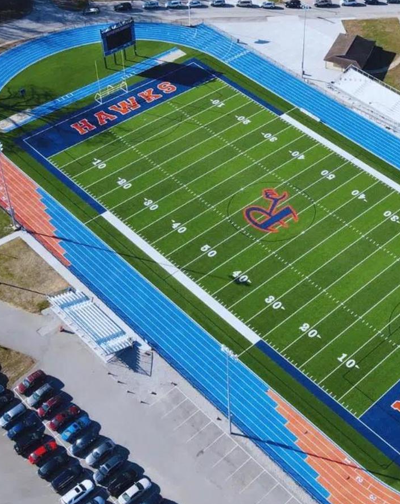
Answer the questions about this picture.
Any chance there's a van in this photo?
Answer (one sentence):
Yes, looking at the shot, I can spot a van.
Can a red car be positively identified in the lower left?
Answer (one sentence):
Yes, looking in the lower left, one can make out a red car.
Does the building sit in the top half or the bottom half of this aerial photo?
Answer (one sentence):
You can find the building in the top half.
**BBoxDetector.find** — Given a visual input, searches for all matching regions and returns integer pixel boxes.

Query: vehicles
[165,0,182,7]
[135,486,169,504]
[235,0,253,6]
[118,477,151,504]
[61,479,95,504]
[107,465,140,497]
[209,0,227,6]
[316,0,333,5]
[16,369,47,393]
[6,412,41,439]
[26,438,60,467]
[340,0,357,5]
[69,428,102,457]
[35,449,73,481]
[114,1,132,10]
[0,396,30,425]
[285,0,302,7]
[16,424,46,452]
[60,414,93,442]
[96,451,128,481]
[86,440,115,465]
[85,493,108,504]
[26,379,57,407]
[50,461,85,493]
[48,405,81,432]
[0,391,16,409]
[142,0,159,9]
[35,392,66,420]
[189,0,205,7]
[260,1,277,9]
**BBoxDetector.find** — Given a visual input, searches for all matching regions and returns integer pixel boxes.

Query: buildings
[324,29,375,72]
